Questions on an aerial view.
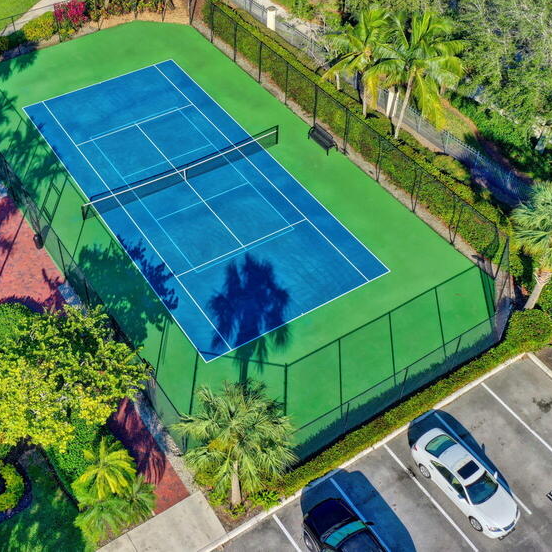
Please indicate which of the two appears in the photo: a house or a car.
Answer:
car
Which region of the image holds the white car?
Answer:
bottom right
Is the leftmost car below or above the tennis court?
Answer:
below it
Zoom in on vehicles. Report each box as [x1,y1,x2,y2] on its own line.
[410,429,523,538]
[300,501,380,552]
